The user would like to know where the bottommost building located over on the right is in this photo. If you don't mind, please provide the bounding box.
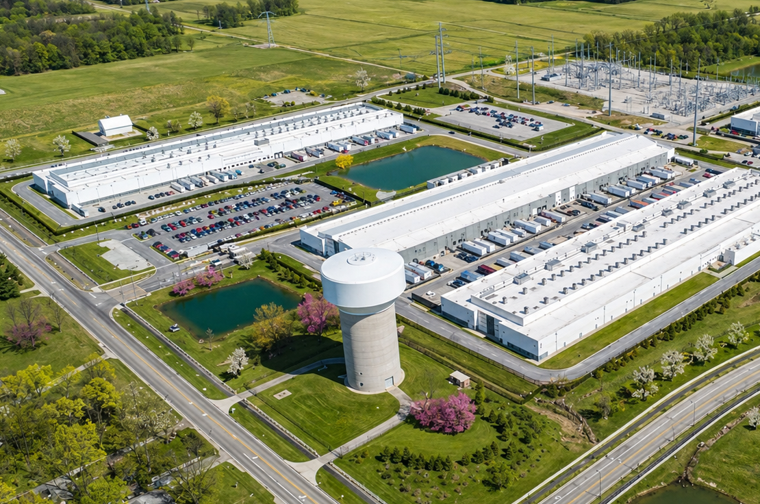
[447,369,472,388]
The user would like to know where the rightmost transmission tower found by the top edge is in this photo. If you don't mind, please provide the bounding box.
[257,13,276,46]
